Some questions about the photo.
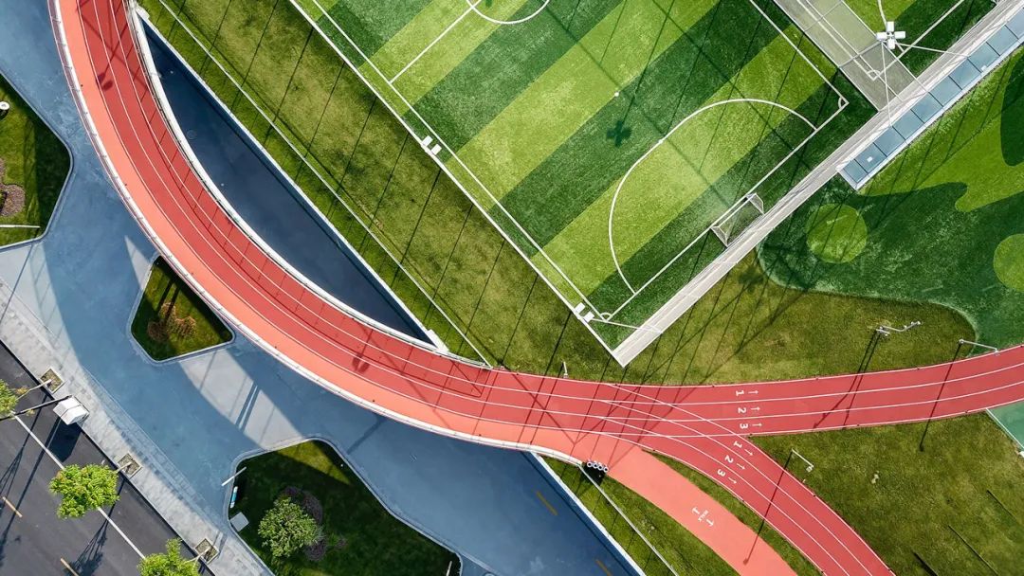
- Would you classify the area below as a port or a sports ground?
sports ground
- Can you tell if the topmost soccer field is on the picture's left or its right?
right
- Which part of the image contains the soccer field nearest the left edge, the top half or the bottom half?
top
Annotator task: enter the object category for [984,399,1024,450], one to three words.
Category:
sports court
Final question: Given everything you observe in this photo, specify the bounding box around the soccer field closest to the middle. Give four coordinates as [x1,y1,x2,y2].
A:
[295,0,879,351]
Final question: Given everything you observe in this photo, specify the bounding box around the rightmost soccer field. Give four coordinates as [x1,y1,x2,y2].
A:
[786,0,1007,111]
